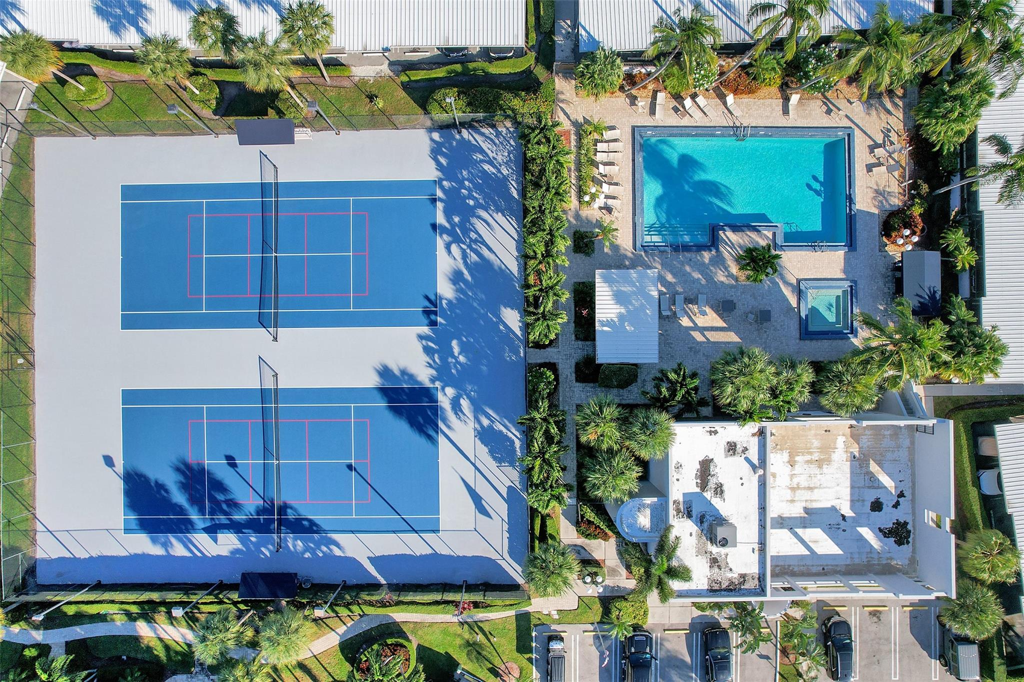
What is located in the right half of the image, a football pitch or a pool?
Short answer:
pool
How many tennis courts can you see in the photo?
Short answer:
2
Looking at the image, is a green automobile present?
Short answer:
No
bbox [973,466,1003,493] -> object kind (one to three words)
car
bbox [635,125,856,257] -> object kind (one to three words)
swimming pool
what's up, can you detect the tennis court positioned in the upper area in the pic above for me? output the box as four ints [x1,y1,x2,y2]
[120,179,439,330]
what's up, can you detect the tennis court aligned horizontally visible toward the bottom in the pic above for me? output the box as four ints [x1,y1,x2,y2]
[121,386,440,535]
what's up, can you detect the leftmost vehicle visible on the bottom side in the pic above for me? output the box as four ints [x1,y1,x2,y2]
[540,637,570,682]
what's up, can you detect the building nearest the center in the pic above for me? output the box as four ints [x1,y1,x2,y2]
[595,269,661,363]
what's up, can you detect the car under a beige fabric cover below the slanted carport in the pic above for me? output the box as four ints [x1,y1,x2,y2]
[973,432,998,457]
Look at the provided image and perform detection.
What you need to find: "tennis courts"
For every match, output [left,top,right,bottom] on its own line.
[120,179,439,330]
[121,386,440,535]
